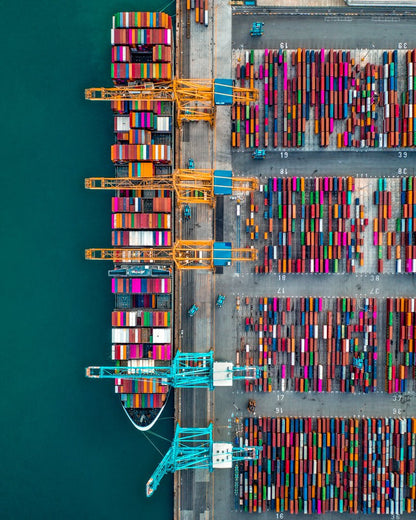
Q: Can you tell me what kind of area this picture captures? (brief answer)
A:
port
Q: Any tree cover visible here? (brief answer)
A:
No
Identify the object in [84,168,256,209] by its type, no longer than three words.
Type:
container crane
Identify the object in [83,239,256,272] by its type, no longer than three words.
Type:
container crane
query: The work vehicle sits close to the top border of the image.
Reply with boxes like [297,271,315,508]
[251,24,265,37]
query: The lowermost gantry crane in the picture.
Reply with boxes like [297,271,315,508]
[147,420,263,499]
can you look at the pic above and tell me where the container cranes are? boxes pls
[147,420,263,499]
[84,71,257,129]
[83,239,256,272]
[83,349,263,392]
[84,168,256,209]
